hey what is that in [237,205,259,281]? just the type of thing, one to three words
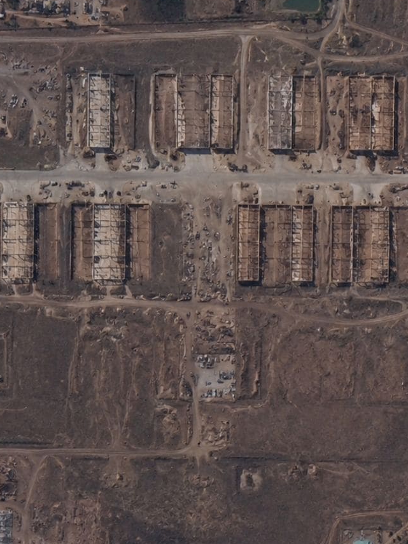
hangar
